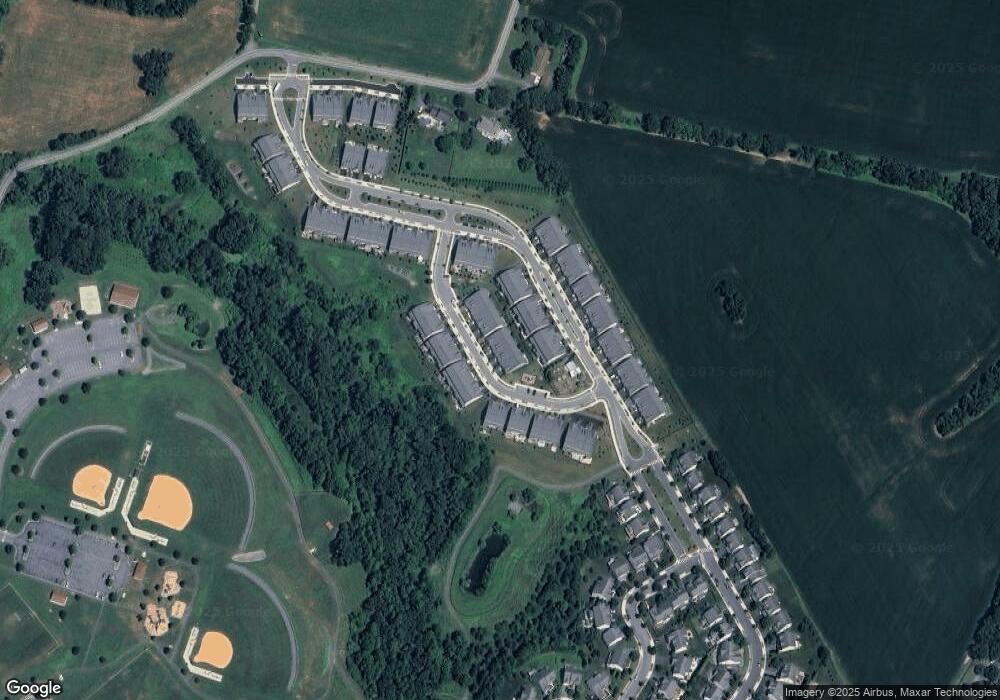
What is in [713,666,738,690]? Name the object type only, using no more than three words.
house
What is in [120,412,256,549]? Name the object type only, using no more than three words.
baseball field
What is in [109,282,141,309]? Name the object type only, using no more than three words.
building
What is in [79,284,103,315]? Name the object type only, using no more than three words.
sports court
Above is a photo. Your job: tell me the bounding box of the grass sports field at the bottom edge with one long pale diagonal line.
[82,648,190,700]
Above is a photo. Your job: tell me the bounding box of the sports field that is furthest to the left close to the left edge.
[0,584,58,665]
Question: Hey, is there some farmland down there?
Yes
